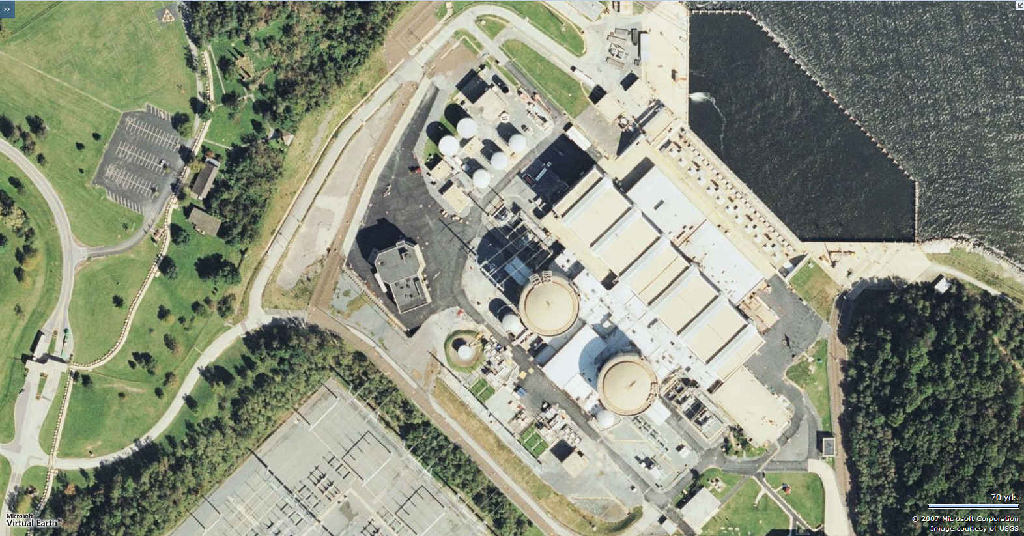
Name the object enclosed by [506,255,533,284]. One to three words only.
shed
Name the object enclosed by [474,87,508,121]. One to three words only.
building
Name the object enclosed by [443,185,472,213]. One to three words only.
shed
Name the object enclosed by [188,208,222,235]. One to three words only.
house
